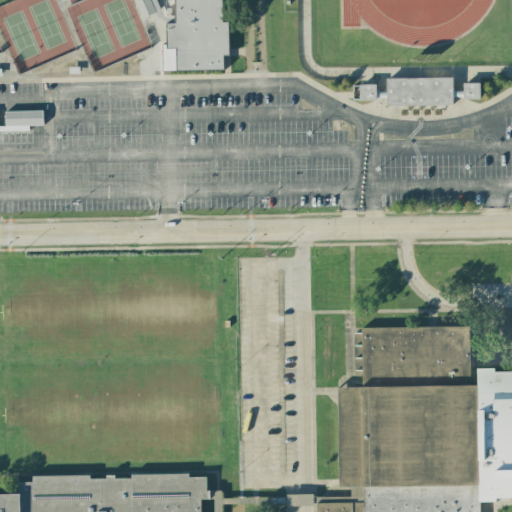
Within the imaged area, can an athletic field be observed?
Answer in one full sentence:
Yes, you can see an athletic field in this photo.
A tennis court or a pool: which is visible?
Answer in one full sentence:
Looking from above, you can make out a tennis court.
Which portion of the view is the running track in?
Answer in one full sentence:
The running track is located in the top right region of the scene.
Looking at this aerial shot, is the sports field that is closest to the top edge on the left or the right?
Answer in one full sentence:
The sports field that is closest to the top edge sits on the left side.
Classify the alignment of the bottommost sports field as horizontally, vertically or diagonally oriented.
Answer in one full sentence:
What the image shows is the bottommost sports field lying horizontally.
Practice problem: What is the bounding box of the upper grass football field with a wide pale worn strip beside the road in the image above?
[2,259,220,358]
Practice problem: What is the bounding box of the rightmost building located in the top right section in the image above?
[464,82,482,100]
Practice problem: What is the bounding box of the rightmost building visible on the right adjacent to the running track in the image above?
[386,77,454,108]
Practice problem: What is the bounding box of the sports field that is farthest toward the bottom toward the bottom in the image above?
[3,359,220,461]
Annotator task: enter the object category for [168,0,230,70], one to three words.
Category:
building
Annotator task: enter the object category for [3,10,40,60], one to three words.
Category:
tennis court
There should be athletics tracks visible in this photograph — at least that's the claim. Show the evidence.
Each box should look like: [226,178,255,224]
[342,0,496,48]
